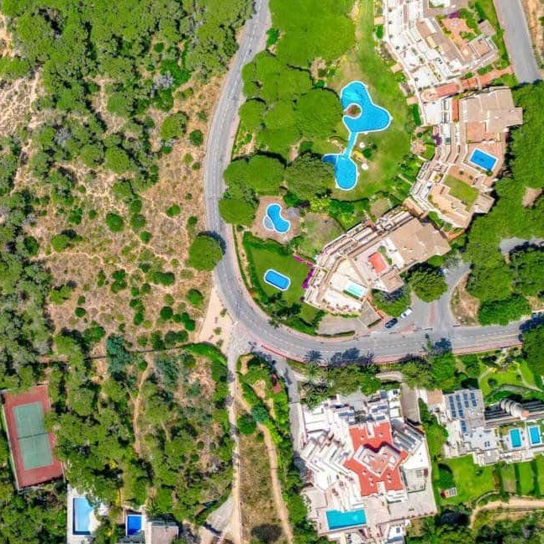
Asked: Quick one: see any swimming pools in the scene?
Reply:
Yes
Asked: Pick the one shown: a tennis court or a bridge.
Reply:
tennis court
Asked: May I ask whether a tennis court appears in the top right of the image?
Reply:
No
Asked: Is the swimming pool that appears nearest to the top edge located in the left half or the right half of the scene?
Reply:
right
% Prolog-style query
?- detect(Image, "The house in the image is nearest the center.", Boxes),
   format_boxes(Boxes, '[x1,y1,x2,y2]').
[300,206,455,329]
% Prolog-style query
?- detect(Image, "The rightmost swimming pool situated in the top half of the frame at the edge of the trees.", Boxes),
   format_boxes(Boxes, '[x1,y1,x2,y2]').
[466,146,502,172]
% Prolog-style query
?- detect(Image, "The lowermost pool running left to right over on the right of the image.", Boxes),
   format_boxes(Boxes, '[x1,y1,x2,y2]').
[323,507,368,529]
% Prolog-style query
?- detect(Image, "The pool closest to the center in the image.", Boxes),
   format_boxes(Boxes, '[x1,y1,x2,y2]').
[263,267,291,291]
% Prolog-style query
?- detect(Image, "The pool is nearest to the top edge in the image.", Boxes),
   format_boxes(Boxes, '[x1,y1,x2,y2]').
[338,79,392,134]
